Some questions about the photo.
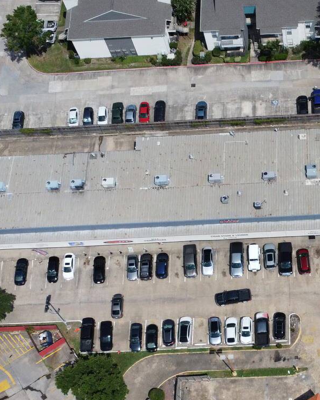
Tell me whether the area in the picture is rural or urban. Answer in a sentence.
The area is urban.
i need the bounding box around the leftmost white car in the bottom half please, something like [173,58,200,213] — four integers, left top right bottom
[61,253,76,281]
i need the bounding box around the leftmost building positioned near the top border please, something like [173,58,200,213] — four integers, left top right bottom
[66,0,177,58]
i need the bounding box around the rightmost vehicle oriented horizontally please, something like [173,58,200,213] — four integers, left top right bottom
[214,288,253,305]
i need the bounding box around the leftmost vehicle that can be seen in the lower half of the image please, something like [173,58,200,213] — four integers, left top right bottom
[15,260,29,286]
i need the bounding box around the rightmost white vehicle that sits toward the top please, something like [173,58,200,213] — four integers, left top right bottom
[96,106,109,124]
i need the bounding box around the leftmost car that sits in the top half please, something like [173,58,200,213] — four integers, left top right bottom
[12,111,25,128]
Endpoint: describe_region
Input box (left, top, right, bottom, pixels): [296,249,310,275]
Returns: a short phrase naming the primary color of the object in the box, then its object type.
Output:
red vehicle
